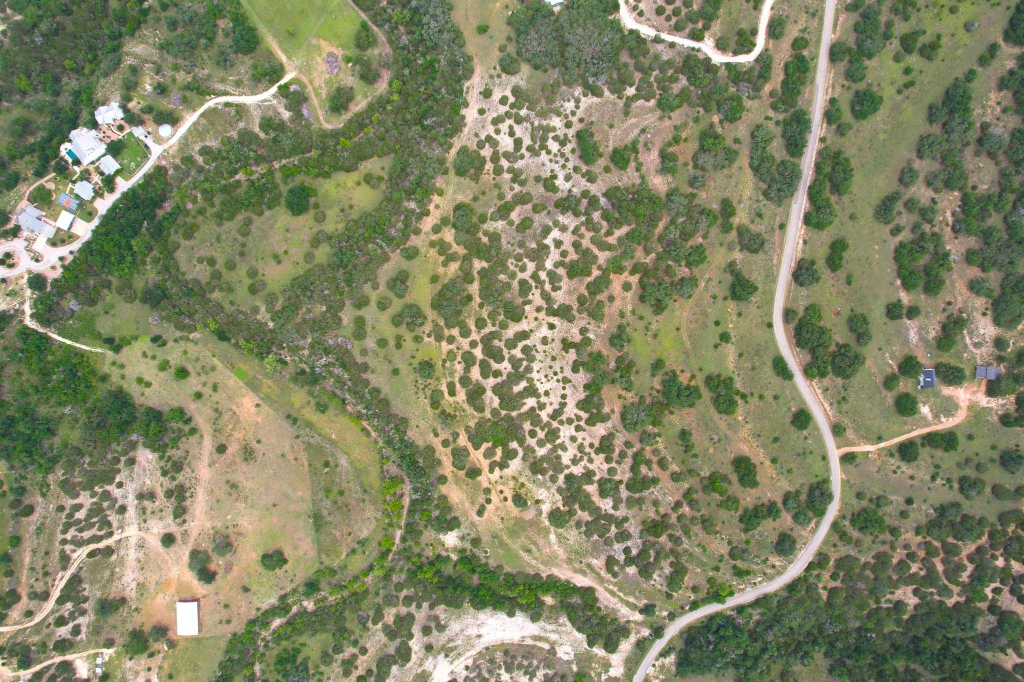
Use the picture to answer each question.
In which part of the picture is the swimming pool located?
top left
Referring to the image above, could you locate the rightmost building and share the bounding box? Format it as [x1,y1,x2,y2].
[973,366,1000,380]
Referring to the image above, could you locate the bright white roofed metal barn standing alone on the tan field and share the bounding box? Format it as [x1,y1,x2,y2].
[176,599,202,636]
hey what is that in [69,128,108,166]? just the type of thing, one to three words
house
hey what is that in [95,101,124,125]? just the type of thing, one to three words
house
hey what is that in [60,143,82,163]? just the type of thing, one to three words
swimming pool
